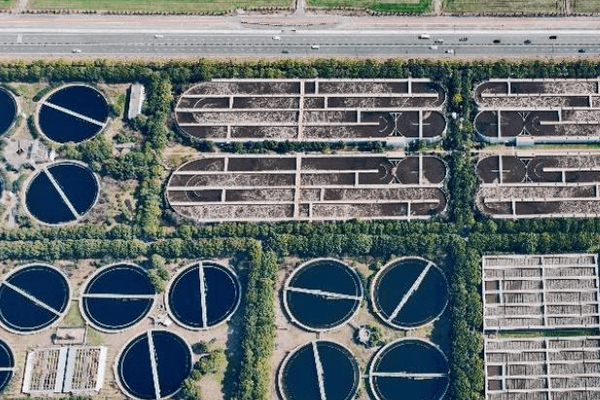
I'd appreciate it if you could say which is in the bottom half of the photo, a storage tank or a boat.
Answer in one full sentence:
What appears in the bottom half of the photo is a storage tank.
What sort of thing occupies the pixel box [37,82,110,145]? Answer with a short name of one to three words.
storage tank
